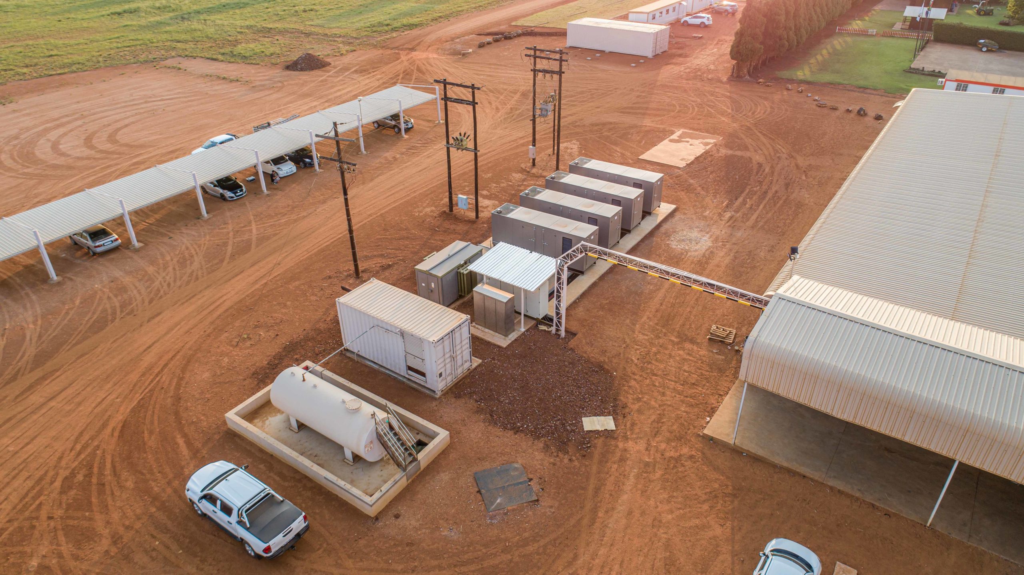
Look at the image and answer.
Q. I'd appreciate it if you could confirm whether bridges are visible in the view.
Yes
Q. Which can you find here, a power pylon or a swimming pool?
power pylon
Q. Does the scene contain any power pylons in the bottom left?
No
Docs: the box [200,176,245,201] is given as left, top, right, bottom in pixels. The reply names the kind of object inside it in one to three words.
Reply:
car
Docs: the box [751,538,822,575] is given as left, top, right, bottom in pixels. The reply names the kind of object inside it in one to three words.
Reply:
car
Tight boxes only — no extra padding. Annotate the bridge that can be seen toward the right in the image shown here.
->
[552,239,767,337]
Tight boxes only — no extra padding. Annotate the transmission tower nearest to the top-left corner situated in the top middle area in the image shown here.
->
[424,77,489,219]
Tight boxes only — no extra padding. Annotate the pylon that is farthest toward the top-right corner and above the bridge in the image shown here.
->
[519,46,569,170]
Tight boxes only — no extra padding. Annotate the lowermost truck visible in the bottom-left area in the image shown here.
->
[184,464,315,566]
